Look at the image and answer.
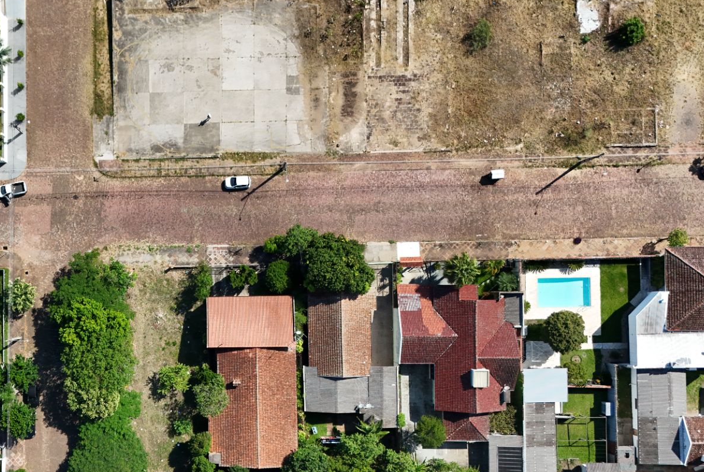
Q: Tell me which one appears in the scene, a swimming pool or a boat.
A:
swimming pool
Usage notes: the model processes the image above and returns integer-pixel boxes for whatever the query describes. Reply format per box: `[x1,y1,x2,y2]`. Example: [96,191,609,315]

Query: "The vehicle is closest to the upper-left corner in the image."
[0,181,29,204]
